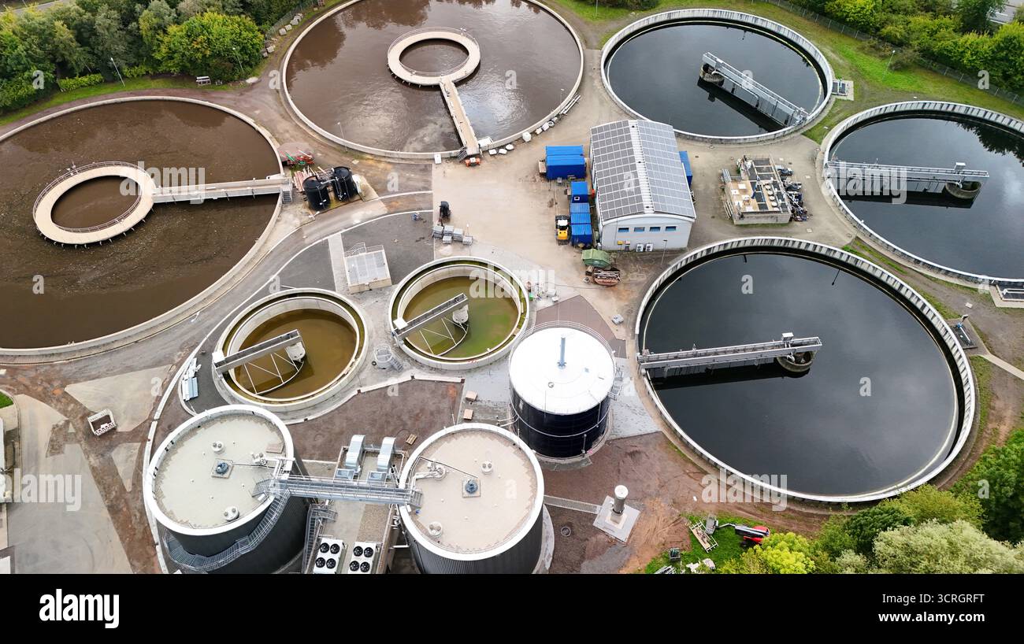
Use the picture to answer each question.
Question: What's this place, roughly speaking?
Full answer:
It's an industrial area.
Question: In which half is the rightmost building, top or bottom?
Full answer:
You can find the rightmost building in the top half.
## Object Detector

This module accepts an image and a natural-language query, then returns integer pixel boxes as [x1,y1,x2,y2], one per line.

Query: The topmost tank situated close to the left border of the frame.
[0,97,294,366]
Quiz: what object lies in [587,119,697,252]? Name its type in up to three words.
building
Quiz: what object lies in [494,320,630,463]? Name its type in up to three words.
storage tank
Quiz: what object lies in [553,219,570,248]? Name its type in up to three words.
work vehicle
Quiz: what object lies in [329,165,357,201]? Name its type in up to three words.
storage tank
